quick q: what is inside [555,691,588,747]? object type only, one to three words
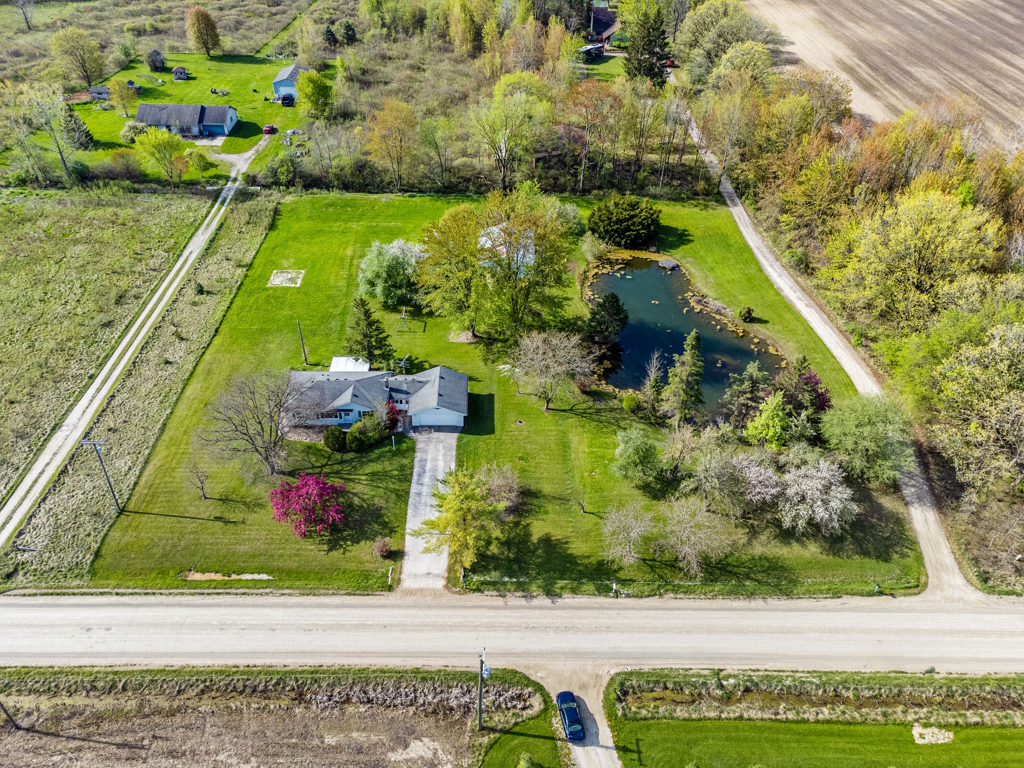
car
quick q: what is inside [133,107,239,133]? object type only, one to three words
house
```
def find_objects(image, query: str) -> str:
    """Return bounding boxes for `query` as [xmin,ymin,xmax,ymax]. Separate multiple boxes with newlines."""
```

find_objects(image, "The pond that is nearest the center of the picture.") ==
[588,249,788,427]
